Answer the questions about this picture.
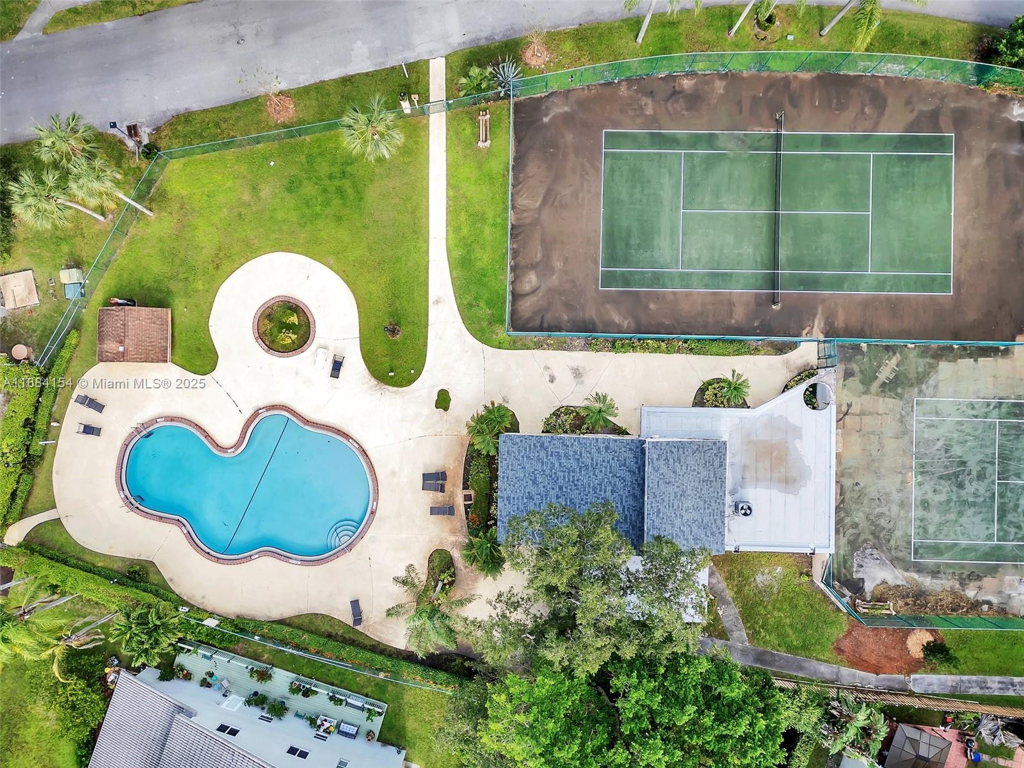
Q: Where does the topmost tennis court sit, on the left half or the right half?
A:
right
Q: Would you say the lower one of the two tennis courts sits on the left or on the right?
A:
right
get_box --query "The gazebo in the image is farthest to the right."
[867,715,951,768]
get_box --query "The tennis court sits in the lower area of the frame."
[820,343,1024,618]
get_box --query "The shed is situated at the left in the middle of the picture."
[96,306,174,364]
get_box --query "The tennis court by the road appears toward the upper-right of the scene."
[511,70,1024,346]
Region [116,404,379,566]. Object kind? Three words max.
swimming pool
